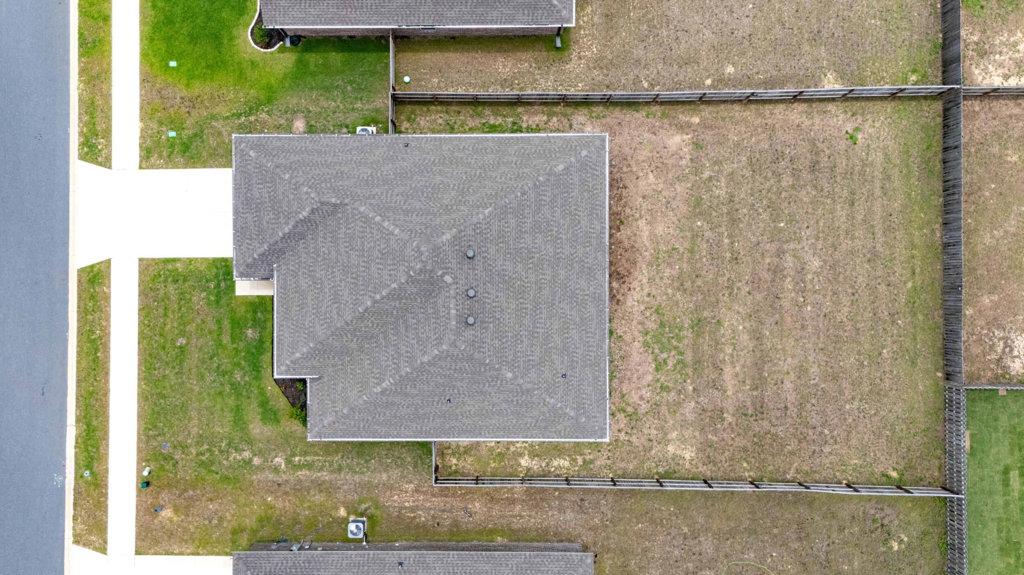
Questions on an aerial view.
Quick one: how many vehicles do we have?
0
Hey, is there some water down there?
No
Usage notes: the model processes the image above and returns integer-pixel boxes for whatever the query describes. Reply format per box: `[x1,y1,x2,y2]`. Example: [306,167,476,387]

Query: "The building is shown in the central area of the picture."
[233,133,609,441]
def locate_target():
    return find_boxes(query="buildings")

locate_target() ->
[233,133,609,441]
[232,542,598,575]
[260,0,576,39]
